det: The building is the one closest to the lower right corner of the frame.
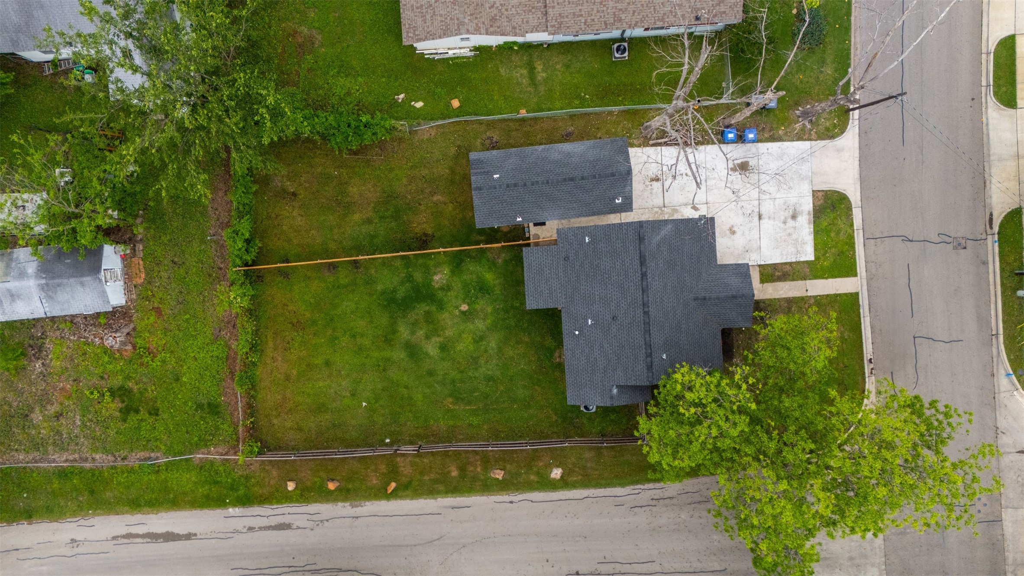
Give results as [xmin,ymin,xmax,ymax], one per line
[523,214,757,407]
